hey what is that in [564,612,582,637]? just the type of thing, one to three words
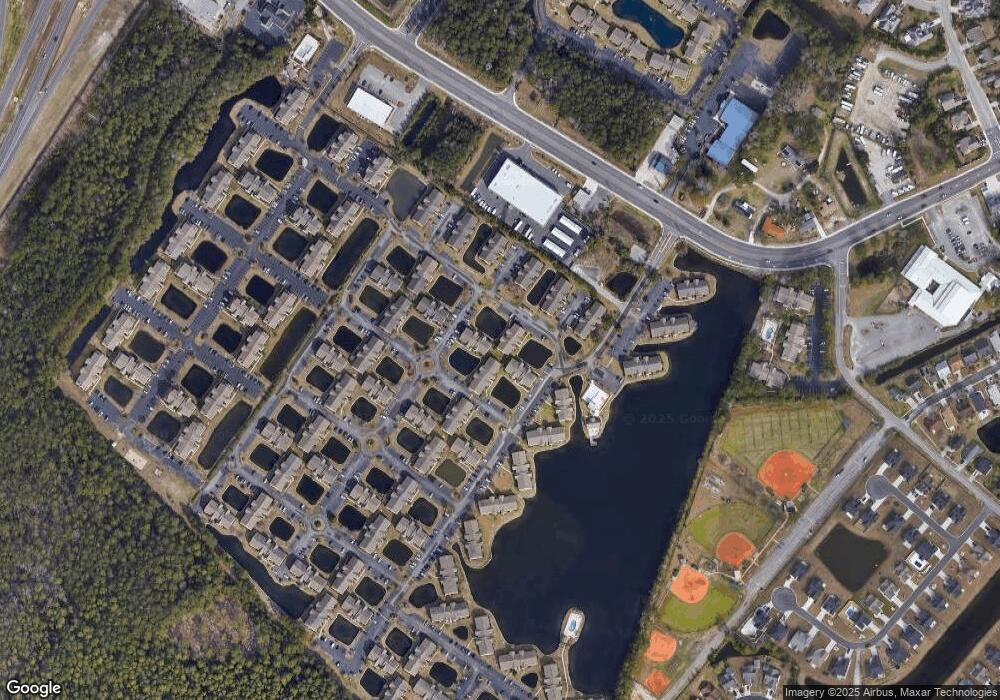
swimming pool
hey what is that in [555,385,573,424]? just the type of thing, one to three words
building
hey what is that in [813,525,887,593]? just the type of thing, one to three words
pond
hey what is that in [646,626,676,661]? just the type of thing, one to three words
baseball field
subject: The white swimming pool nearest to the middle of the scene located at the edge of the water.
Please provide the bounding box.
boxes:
[582,381,609,413]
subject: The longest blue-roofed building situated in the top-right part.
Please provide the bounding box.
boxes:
[707,87,754,164]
